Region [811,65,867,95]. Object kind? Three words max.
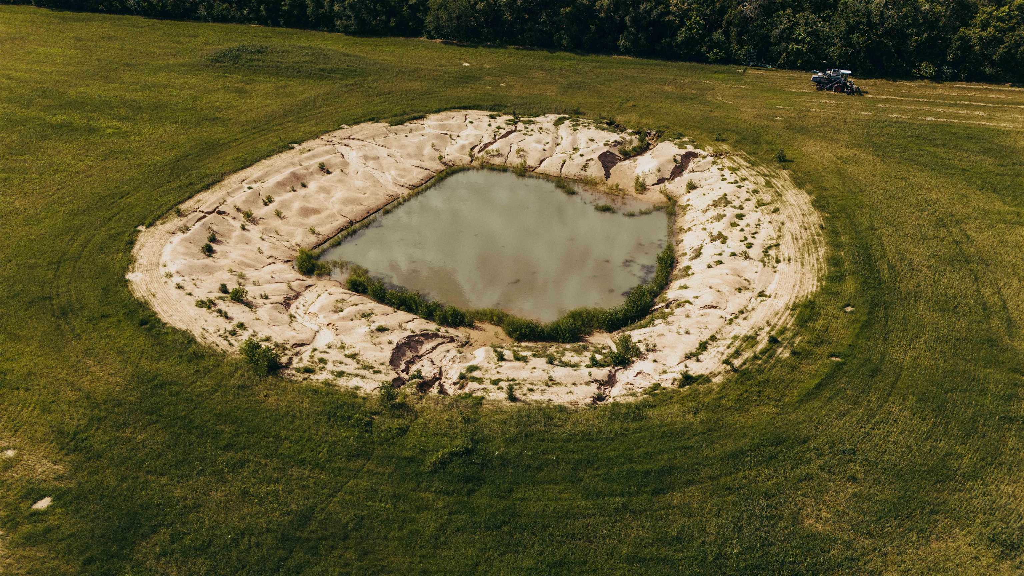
work vehicle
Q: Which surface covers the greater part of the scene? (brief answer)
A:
grass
